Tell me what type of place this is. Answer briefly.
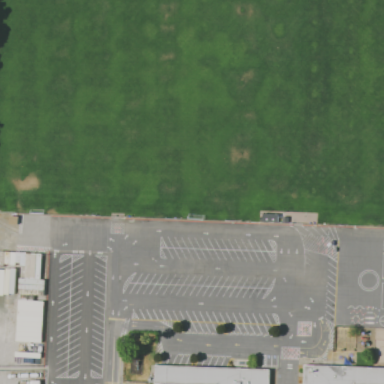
sports ground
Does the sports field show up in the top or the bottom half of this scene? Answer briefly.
top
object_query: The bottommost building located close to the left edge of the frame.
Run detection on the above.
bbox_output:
[16,300,44,342]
